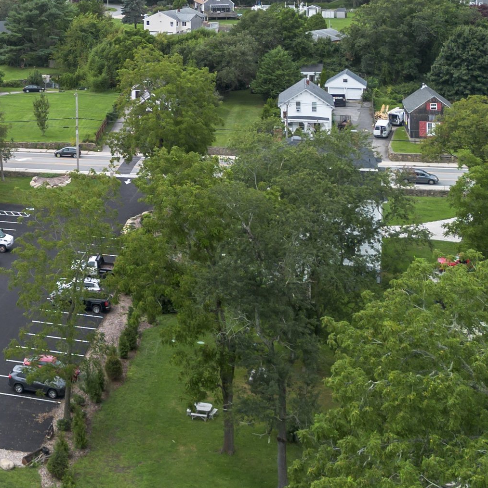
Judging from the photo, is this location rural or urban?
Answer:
rural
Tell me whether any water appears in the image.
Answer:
No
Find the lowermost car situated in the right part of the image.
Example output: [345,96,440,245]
[396,166,441,185]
